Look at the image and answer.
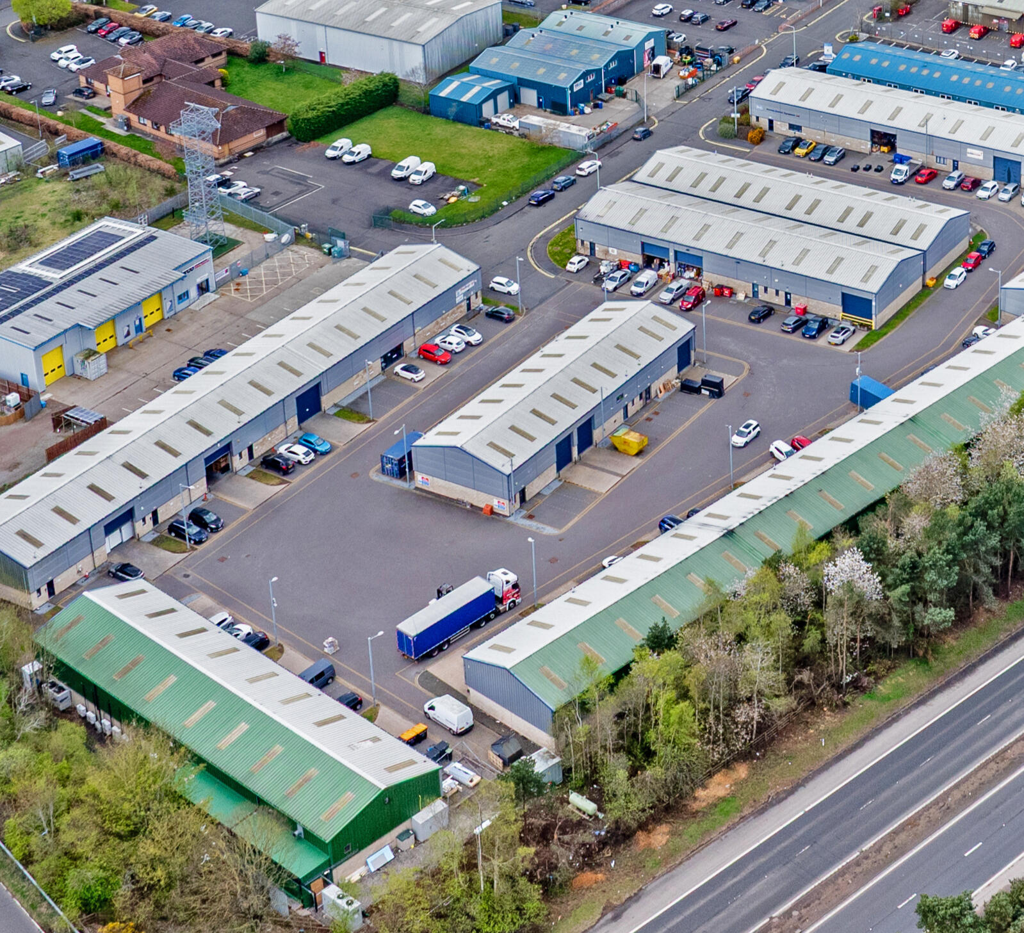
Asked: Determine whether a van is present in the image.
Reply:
Yes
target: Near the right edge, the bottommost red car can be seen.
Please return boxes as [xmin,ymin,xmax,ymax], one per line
[960,251,984,271]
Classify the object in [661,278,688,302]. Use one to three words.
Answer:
truck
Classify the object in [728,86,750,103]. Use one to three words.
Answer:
car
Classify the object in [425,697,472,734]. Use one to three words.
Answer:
van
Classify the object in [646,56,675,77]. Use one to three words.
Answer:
vehicle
